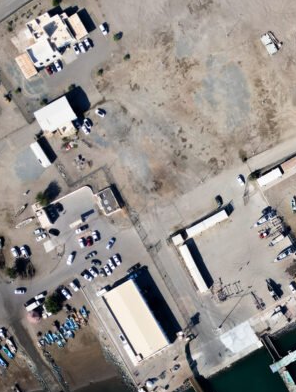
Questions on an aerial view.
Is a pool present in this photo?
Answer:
No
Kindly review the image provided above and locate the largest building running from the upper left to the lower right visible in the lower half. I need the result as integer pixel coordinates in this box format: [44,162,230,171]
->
[103,277,171,361]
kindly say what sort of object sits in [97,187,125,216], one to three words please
building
